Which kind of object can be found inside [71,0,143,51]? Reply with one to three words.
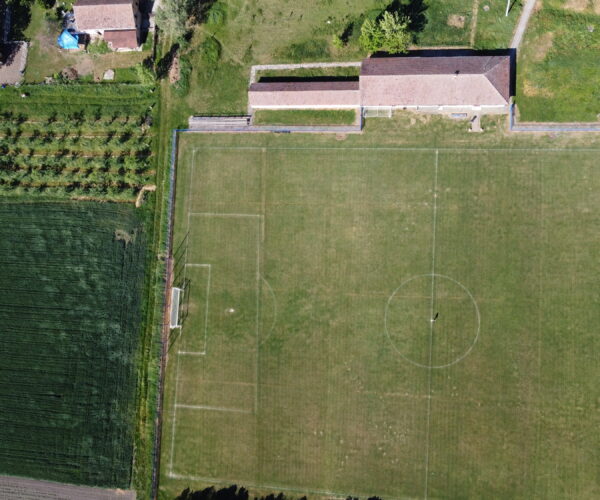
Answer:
house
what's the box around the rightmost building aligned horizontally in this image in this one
[360,54,510,113]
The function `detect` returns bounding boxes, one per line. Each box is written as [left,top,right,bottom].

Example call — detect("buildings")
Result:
[360,54,510,113]
[71,0,143,51]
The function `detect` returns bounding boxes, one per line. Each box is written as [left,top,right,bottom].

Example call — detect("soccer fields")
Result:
[156,111,600,500]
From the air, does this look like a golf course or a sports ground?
sports ground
